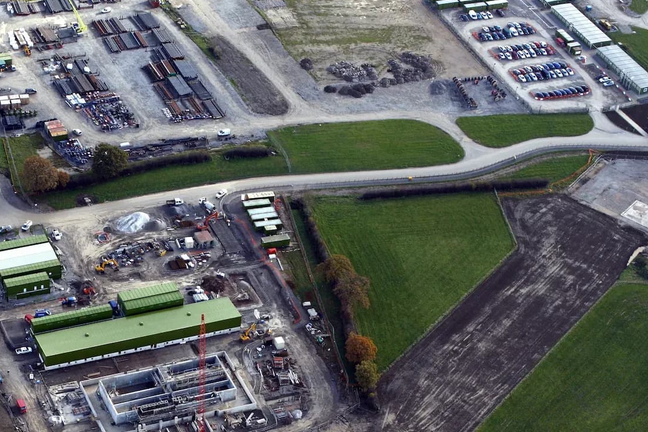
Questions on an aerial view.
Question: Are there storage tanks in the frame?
Yes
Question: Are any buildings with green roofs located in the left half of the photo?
Yes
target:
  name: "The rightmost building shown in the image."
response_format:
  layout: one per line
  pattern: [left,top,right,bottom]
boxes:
[596,45,648,94]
